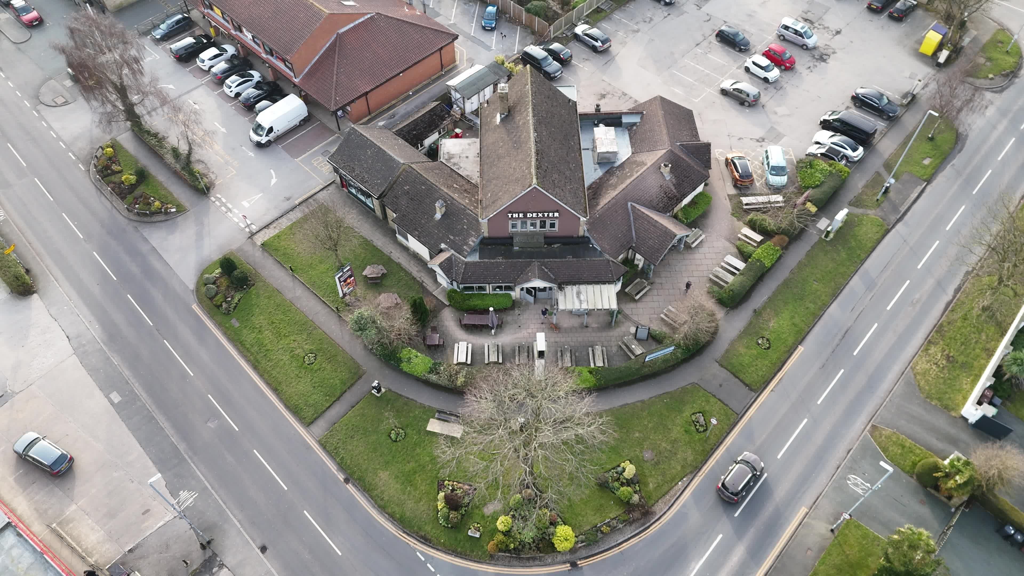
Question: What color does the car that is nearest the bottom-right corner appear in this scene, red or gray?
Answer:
gray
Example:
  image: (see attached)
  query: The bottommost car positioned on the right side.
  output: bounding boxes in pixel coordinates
[718,451,768,507]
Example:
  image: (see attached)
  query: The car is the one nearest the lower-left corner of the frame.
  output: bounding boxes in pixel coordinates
[8,433,75,481]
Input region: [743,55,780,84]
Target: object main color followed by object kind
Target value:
white car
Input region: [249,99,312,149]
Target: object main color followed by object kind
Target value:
white van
